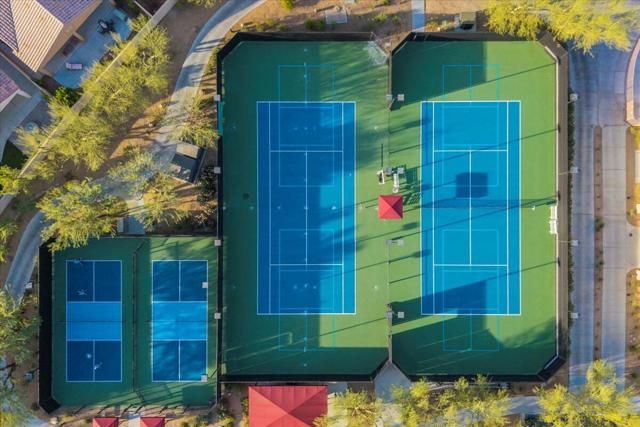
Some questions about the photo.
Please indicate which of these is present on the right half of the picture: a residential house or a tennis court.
tennis court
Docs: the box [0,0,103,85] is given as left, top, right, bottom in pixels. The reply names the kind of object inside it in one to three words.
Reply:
house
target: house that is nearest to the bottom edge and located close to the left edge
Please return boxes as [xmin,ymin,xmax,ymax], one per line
[0,69,32,133]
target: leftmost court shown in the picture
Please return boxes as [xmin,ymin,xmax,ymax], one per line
[52,237,134,406]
